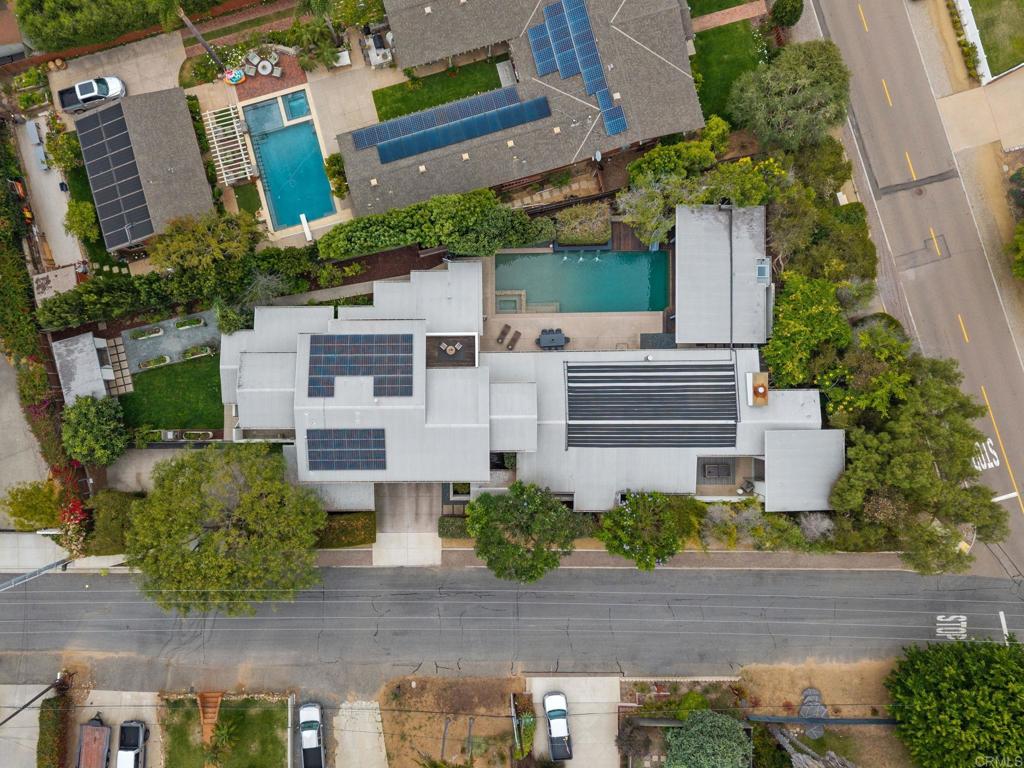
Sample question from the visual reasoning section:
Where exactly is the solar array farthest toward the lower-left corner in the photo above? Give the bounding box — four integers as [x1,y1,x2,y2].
[307,429,386,470]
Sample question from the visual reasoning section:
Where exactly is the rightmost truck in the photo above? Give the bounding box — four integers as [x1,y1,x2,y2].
[541,690,572,763]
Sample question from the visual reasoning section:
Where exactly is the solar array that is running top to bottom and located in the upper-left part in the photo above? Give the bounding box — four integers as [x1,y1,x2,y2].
[77,105,151,247]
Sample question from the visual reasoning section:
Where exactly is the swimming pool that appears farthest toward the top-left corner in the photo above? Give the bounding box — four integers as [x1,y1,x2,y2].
[243,88,335,228]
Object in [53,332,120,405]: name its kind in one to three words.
shed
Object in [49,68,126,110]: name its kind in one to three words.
truck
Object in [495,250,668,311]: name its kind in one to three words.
swimming pool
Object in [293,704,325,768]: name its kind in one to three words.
truck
